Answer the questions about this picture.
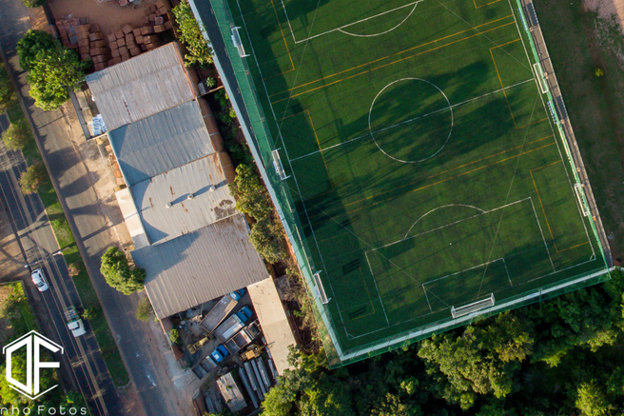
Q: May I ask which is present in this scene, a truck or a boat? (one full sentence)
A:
There is a truck in the scene.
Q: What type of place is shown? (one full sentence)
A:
What you see here is a sports ground.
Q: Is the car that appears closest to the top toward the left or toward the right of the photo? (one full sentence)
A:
The car that appears closest to the top appears in the left half of the scene.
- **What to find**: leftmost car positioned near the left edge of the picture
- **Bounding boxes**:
[30,265,51,296]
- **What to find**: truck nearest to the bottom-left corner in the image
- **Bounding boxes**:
[65,303,88,339]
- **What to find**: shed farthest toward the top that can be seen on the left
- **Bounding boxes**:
[85,43,203,132]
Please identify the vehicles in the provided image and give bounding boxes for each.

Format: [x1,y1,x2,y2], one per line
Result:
[240,340,270,366]
[65,303,88,339]
[30,265,51,296]
[225,319,264,364]
[212,302,257,347]
[189,342,233,386]
[196,287,251,339]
